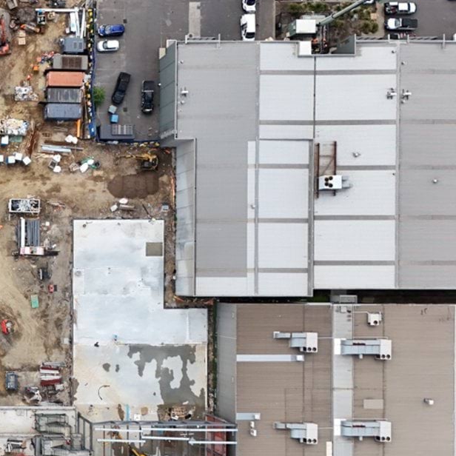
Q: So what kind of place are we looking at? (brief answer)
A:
industrial area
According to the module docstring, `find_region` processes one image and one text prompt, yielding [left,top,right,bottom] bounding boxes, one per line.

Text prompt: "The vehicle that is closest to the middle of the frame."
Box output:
[113,153,162,171]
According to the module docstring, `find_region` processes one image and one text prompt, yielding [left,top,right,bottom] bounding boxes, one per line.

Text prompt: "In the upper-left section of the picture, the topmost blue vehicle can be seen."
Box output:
[99,23,124,37]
